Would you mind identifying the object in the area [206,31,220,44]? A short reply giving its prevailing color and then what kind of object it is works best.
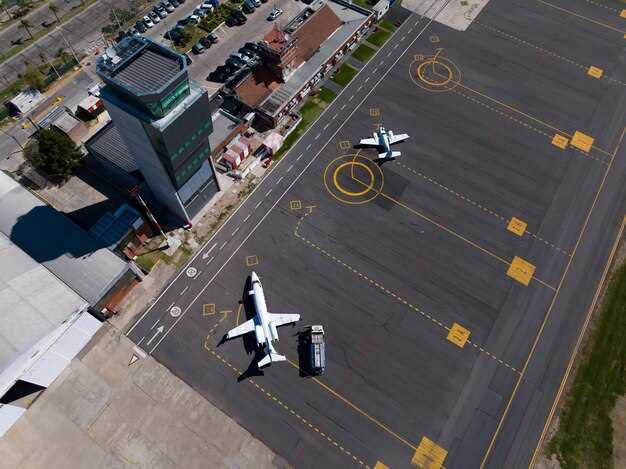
gray vehicle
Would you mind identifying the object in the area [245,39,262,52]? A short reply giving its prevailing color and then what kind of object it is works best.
black vehicle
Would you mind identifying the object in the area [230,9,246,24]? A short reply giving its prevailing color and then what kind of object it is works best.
black car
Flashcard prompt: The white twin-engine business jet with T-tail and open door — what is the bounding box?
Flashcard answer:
[226,272,301,369]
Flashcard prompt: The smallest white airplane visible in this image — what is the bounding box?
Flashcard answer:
[362,128,411,163]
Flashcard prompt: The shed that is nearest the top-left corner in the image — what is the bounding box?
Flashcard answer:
[10,87,47,119]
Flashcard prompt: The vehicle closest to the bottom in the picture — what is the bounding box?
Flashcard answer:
[307,326,327,378]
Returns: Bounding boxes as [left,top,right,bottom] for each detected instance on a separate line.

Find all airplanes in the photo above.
[362,128,411,163]
[226,272,301,369]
